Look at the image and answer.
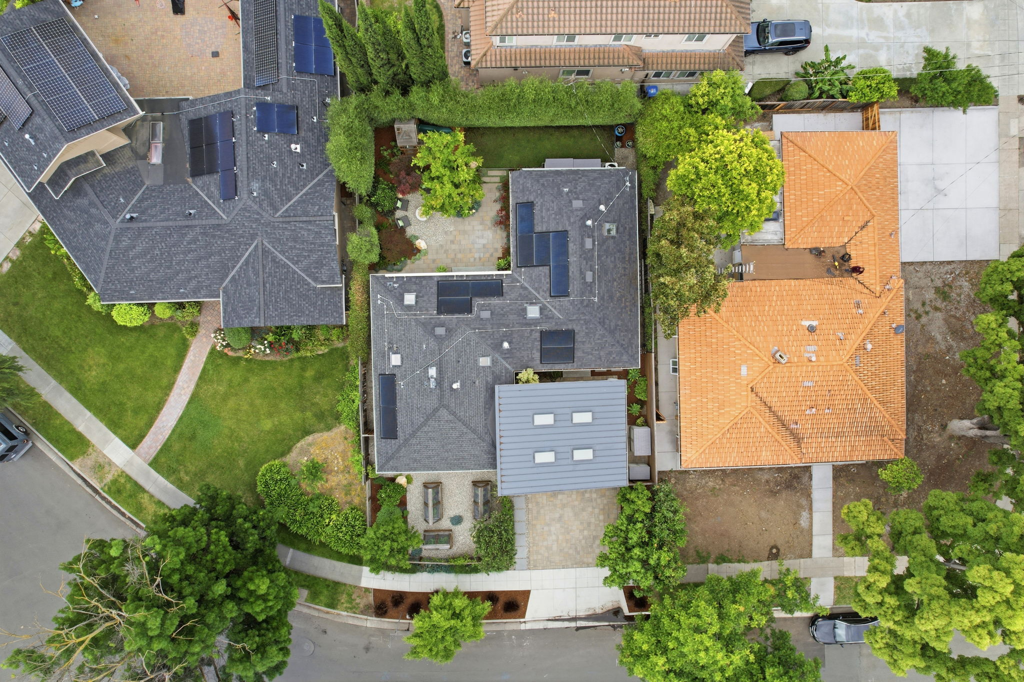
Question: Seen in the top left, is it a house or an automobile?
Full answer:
Visible in the top left is a house.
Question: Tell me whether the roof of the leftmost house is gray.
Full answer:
Yes, the roof of the leftmost house appears gray.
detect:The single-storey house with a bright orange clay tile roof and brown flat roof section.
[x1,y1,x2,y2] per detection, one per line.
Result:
[664,130,910,470]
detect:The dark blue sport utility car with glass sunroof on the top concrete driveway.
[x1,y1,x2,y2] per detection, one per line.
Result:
[745,16,813,57]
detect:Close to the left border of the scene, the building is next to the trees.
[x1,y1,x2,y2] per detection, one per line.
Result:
[0,0,348,327]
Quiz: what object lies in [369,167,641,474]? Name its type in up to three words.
house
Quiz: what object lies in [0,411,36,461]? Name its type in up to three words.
car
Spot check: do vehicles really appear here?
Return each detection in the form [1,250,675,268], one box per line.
[803,605,869,644]
[745,16,813,57]
[0,411,36,461]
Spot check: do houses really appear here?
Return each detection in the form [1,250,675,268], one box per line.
[453,0,752,83]
[369,167,641,474]
[0,0,348,327]
[664,130,910,470]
